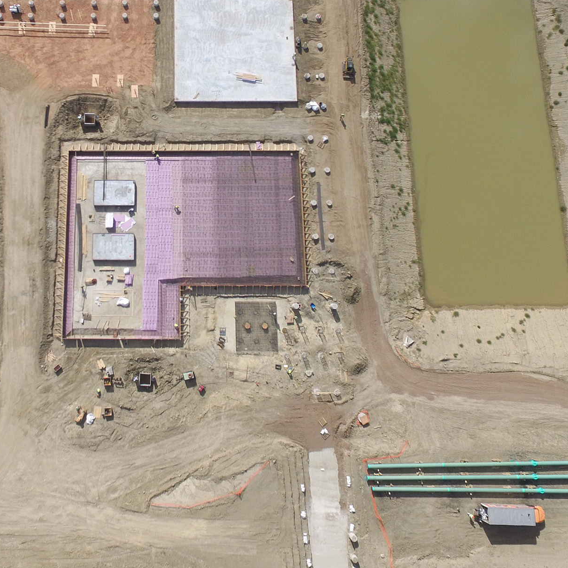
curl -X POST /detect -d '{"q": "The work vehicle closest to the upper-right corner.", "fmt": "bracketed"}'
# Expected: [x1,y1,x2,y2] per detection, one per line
[341,57,355,80]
